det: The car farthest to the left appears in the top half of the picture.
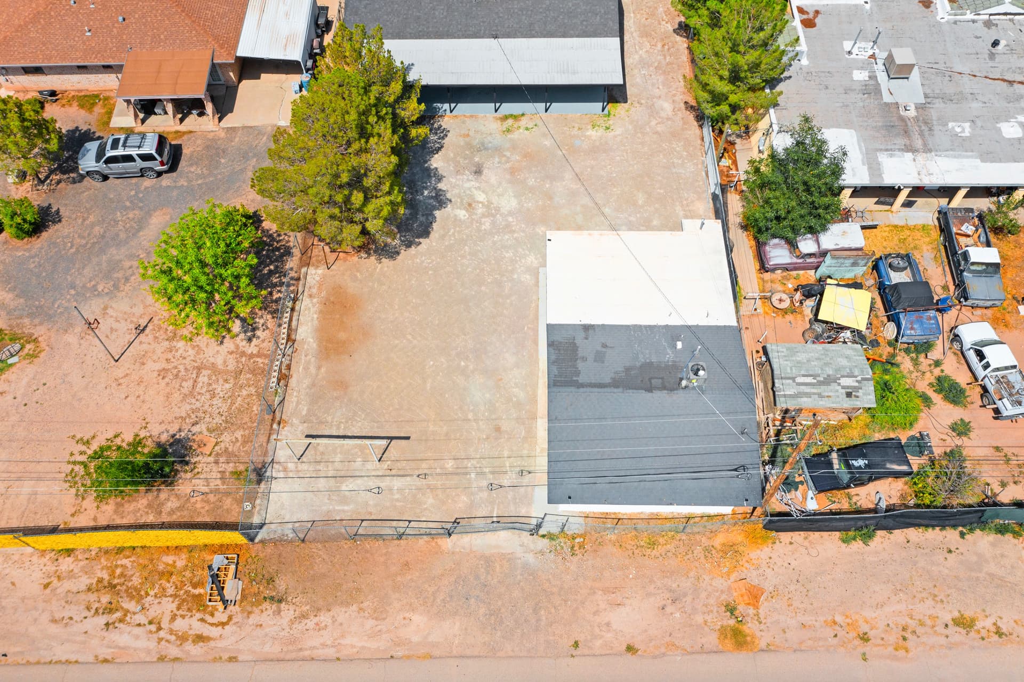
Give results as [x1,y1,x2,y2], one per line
[74,123,175,175]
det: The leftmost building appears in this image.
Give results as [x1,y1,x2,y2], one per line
[0,0,252,126]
